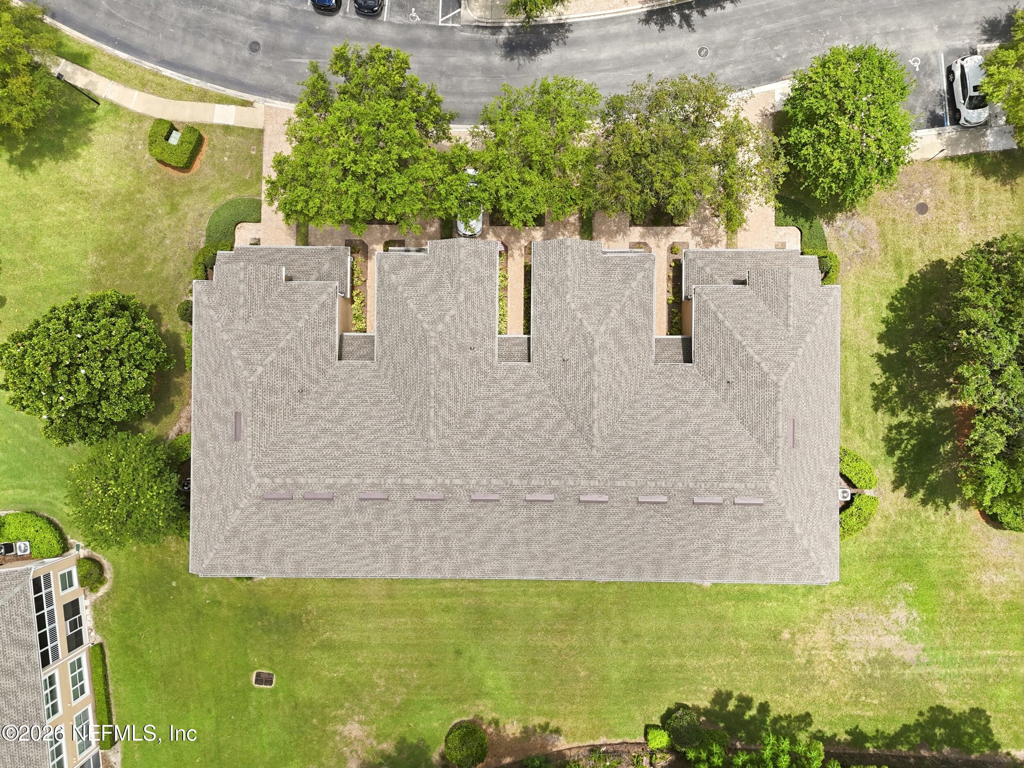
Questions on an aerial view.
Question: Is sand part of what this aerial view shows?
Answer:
No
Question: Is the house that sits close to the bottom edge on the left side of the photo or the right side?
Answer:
left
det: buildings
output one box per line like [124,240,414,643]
[0,551,107,768]
[187,237,842,584]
